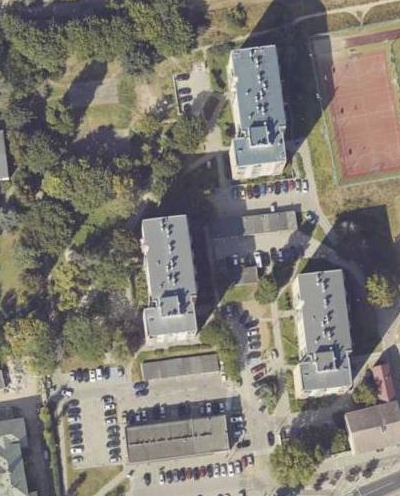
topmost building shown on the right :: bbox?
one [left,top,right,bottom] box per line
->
[230,45,287,181]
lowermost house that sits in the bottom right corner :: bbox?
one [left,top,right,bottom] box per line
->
[345,402,400,454]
